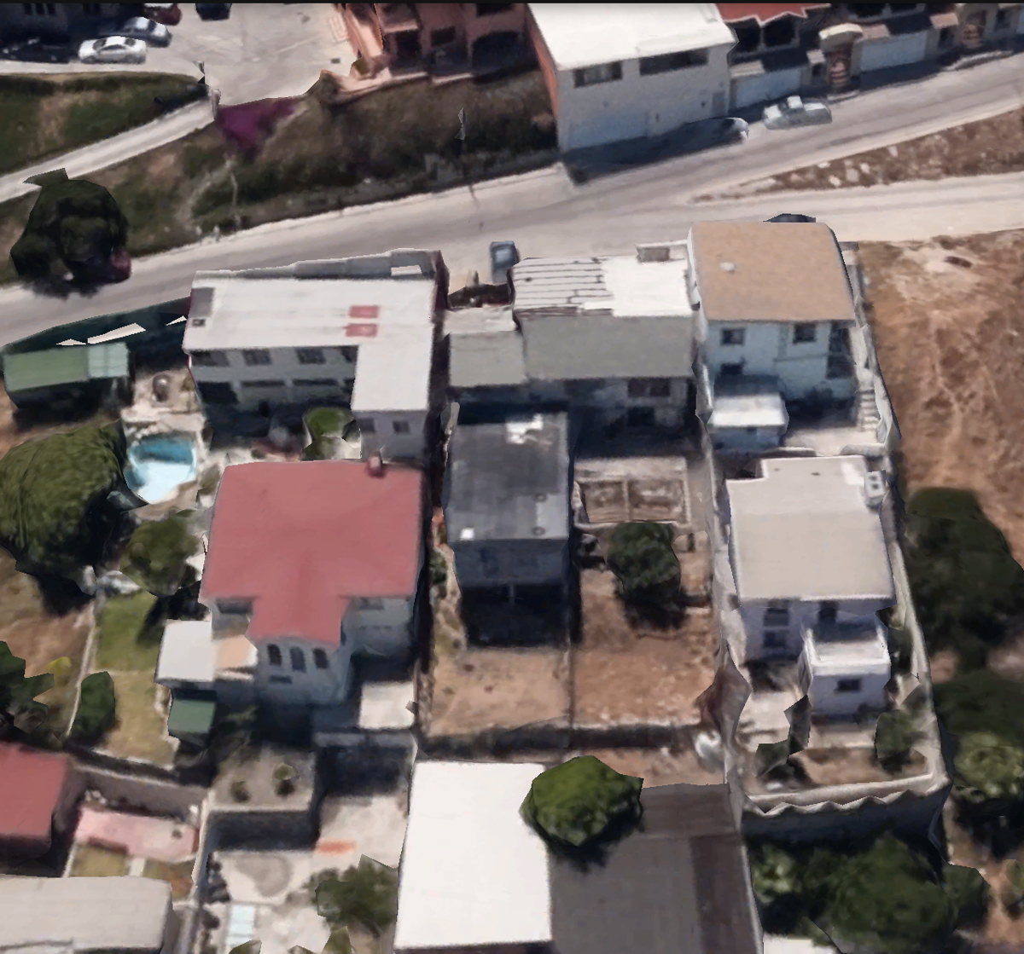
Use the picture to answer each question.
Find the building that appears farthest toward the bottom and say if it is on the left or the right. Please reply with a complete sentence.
It is on the left.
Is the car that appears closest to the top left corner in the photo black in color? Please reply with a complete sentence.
Yes, black is the color of the car that appears closest to the top left corner.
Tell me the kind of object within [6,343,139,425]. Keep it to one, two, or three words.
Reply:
shed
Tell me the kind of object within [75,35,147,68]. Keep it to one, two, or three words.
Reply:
car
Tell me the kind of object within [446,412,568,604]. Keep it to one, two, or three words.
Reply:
house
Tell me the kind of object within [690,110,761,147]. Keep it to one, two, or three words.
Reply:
car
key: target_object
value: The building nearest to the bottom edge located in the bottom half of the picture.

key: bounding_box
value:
[0,875,178,954]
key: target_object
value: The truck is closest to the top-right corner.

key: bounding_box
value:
[760,96,837,133]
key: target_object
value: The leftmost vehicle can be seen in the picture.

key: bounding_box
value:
[0,32,67,64]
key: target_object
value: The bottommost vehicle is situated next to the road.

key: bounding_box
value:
[486,236,518,291]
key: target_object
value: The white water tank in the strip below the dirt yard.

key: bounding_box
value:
[699,732,724,761]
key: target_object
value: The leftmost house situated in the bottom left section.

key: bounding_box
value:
[0,739,76,861]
